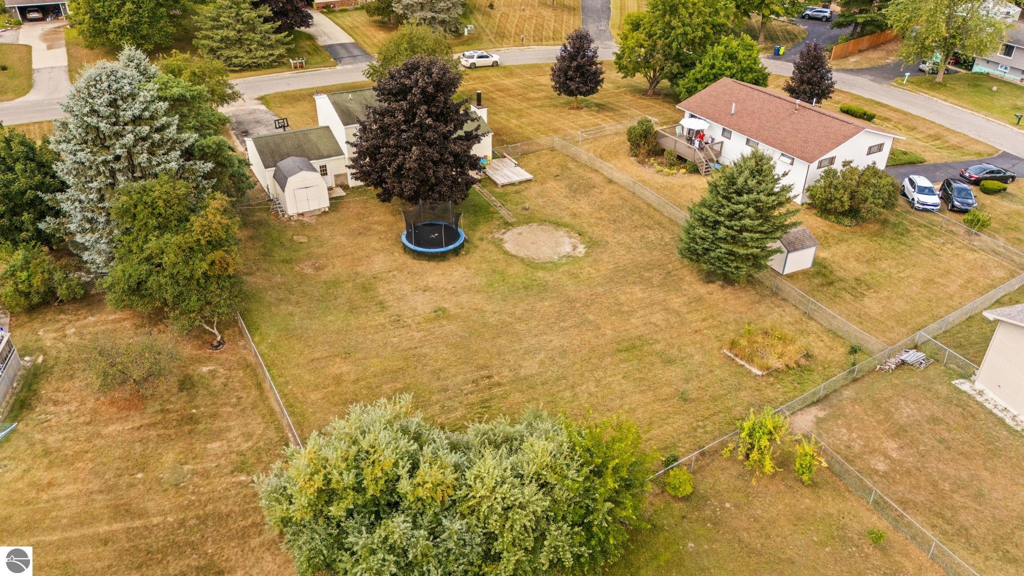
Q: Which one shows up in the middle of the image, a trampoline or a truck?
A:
trampoline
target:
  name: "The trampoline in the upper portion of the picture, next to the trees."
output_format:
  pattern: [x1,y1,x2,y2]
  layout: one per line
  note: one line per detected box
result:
[397,198,465,256]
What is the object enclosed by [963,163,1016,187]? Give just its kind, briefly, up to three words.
car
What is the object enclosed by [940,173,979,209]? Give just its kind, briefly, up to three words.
car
